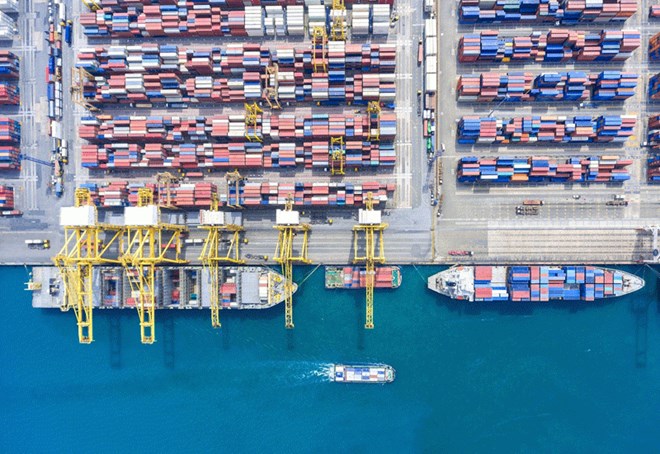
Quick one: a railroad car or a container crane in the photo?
container crane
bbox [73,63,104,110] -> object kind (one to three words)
container crane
